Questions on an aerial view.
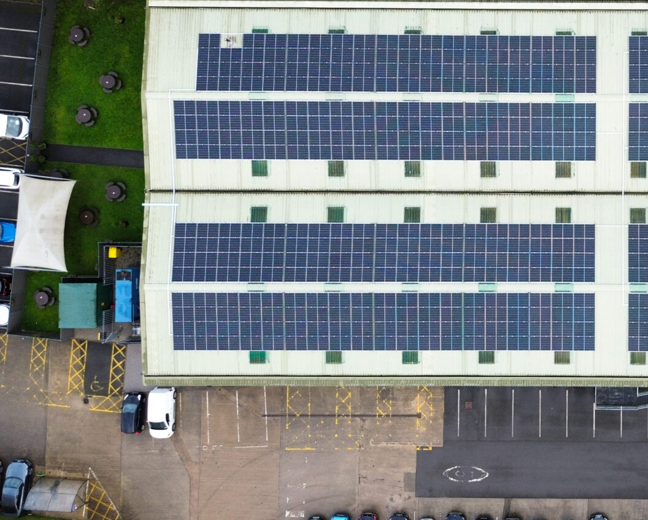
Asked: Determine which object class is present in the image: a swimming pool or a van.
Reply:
van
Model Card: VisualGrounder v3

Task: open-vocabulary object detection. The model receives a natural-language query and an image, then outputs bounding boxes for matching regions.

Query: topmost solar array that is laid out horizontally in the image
[196,33,596,94]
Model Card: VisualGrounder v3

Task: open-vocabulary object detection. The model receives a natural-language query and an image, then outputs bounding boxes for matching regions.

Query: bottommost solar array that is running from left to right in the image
[171,291,595,352]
